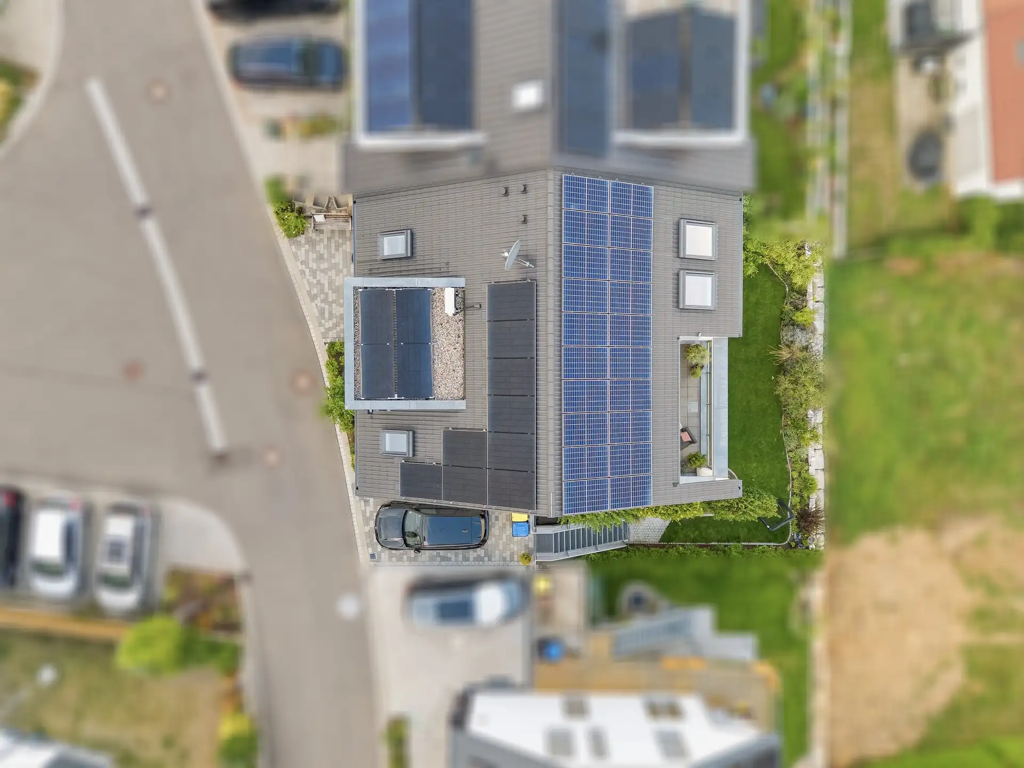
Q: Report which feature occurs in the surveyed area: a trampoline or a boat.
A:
trampoline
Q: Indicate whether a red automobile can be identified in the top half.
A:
No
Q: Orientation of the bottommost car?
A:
from side to side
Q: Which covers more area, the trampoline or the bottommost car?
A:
the car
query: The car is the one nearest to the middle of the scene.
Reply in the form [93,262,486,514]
[377,503,489,555]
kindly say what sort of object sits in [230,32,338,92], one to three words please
car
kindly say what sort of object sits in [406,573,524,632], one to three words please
car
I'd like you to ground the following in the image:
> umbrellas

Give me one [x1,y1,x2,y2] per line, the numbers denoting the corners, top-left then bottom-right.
[896,3,941,51]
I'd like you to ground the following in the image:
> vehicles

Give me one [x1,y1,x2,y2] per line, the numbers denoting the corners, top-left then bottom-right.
[377,503,489,555]
[406,573,524,632]
[230,32,338,92]
[91,499,155,609]
[0,479,32,591]
[23,489,91,600]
